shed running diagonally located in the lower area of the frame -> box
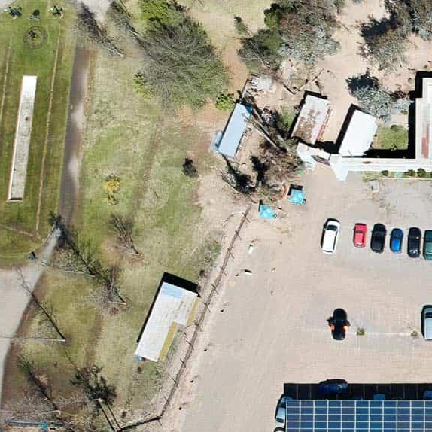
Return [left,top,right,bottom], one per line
[137,282,205,361]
